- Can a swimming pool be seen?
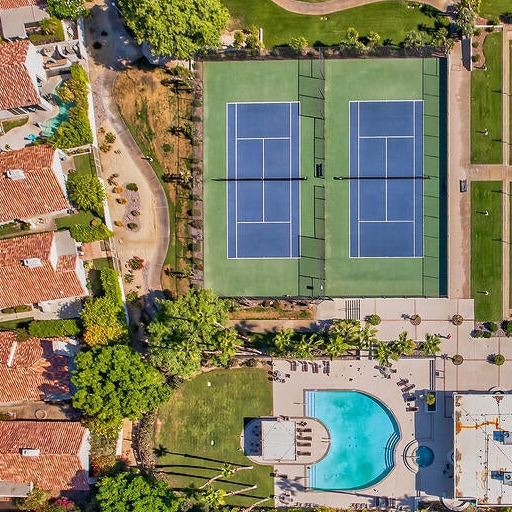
Yes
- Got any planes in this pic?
No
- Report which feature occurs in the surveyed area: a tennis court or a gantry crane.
tennis court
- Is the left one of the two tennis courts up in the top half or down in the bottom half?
top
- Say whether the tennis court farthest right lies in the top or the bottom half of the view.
top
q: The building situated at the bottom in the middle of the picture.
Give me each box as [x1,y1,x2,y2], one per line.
[261,421,301,461]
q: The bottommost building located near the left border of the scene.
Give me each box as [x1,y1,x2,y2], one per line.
[0,421,96,496]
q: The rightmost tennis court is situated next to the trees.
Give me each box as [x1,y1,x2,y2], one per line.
[325,60,448,297]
